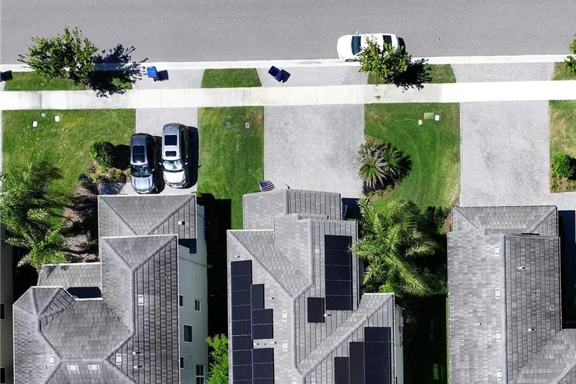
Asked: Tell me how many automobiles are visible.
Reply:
three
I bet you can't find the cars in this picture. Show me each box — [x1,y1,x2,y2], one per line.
[124,134,159,193]
[339,31,401,63]
[155,124,191,191]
